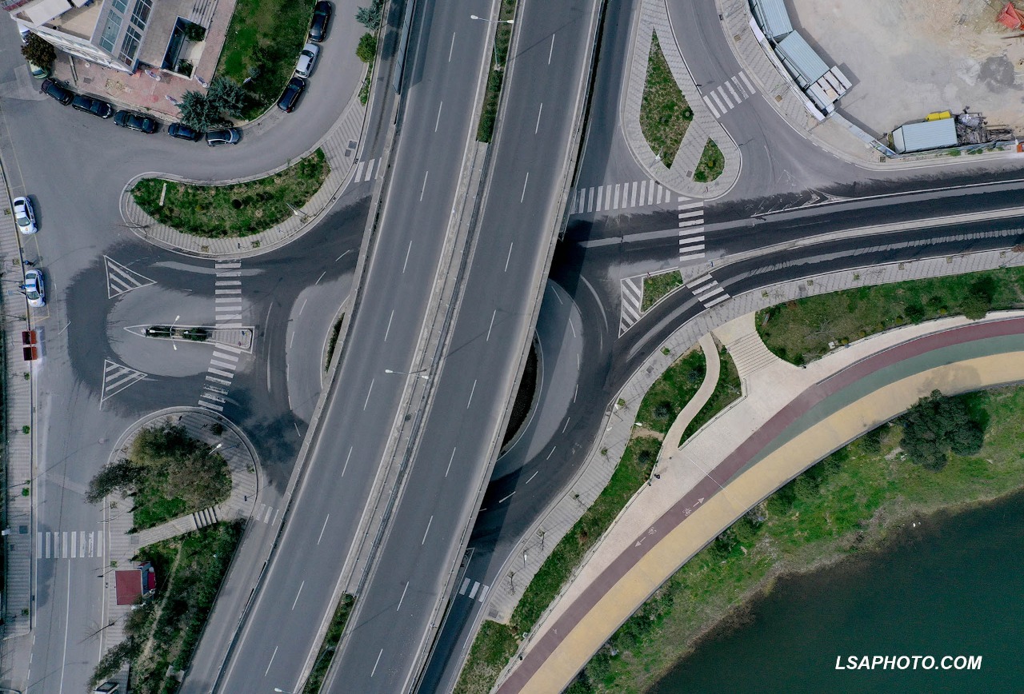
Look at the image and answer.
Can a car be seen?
Yes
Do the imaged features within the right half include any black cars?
No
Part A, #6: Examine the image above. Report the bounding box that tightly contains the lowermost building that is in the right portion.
[883,118,958,158]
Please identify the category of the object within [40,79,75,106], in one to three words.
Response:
car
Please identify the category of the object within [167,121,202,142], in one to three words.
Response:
car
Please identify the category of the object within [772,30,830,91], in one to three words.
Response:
building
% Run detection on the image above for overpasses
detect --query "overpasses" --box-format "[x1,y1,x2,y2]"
[210,0,604,694]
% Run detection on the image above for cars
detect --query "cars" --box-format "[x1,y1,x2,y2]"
[40,79,75,106]
[278,76,305,114]
[14,196,39,236]
[28,58,52,84]
[167,121,202,142]
[25,270,48,308]
[296,43,319,79]
[72,93,115,119]
[207,127,243,146]
[115,110,158,135]
[309,1,333,42]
